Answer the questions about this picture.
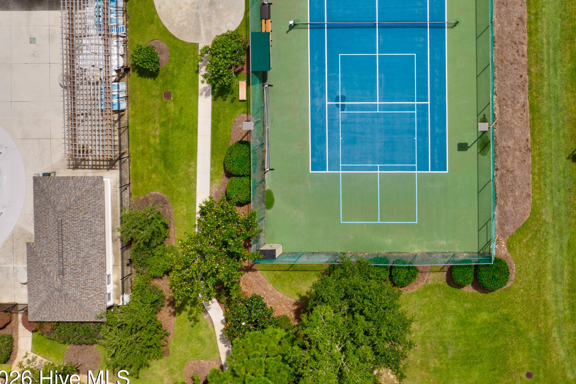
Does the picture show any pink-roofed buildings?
No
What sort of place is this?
sports ground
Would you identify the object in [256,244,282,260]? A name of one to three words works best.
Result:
shed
